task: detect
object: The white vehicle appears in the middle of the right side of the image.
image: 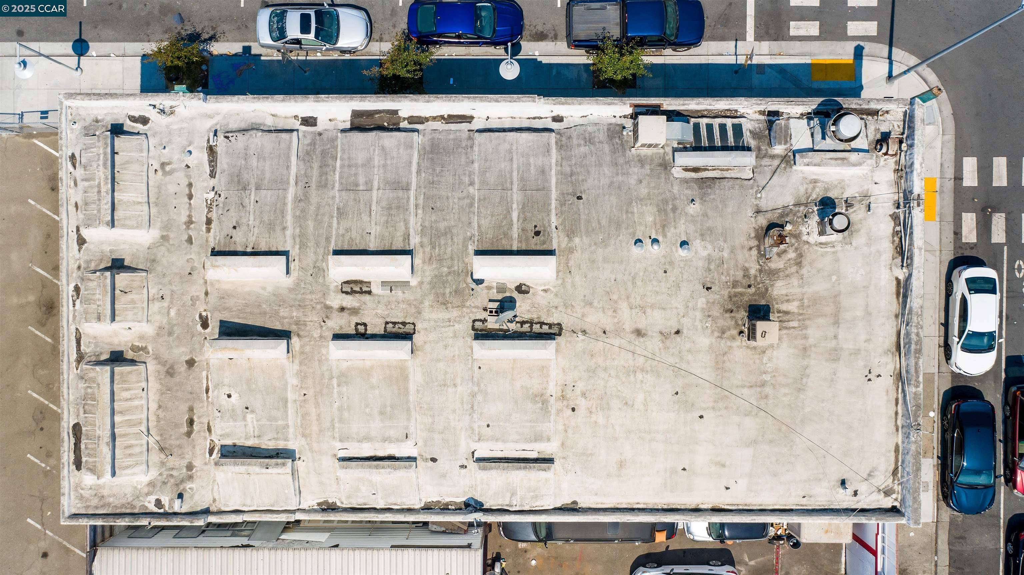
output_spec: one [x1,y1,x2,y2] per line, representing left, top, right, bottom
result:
[942,265,1006,376]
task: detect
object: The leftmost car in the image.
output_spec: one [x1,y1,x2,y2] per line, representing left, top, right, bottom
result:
[256,0,374,54]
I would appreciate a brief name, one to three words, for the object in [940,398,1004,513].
car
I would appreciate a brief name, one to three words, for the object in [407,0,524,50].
car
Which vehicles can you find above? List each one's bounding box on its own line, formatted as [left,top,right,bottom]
[1002,529,1024,575]
[999,381,1024,496]
[940,398,1004,513]
[680,521,769,549]
[498,521,678,550]
[407,0,524,50]
[561,0,702,55]
[942,265,1006,376]
[634,563,734,575]
[256,0,374,54]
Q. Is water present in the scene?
No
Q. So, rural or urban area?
urban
